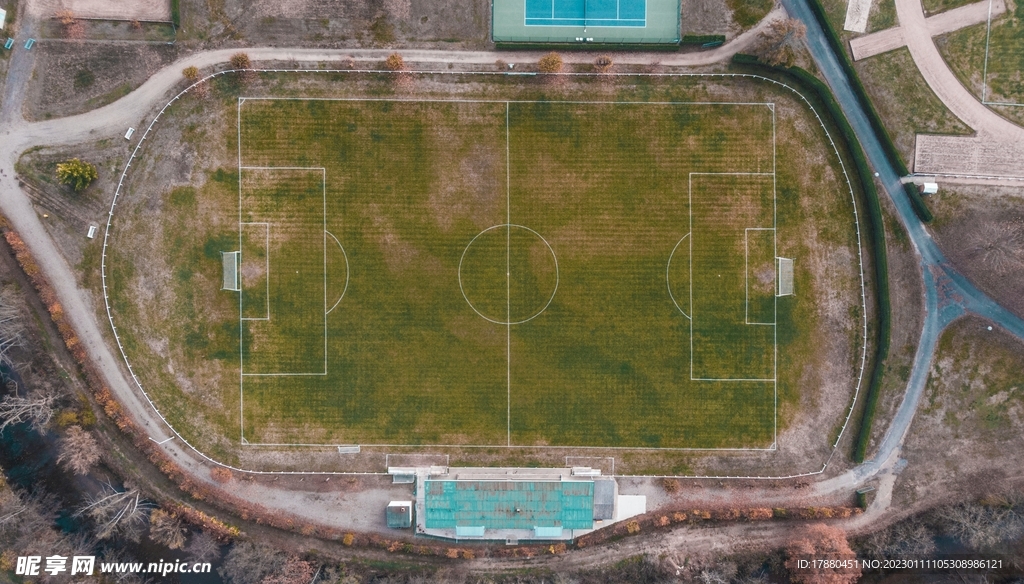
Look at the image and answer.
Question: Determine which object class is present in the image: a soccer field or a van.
soccer field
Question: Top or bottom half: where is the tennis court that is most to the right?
top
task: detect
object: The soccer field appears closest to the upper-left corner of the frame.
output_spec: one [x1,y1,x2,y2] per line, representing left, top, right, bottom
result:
[239,98,776,470]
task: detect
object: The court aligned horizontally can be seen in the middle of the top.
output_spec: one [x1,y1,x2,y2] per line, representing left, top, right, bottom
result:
[493,0,678,44]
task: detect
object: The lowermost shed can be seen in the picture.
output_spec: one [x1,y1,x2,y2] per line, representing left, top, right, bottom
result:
[388,503,412,528]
